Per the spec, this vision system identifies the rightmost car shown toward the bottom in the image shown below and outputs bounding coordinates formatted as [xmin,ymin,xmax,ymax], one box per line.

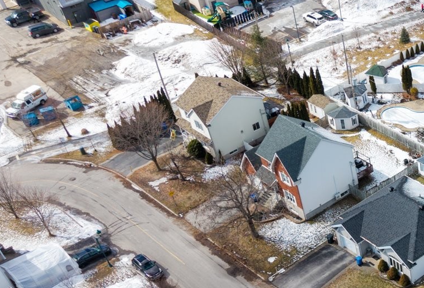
[127,253,167,282]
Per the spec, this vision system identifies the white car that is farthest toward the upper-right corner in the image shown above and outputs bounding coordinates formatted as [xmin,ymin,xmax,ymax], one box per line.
[303,13,326,27]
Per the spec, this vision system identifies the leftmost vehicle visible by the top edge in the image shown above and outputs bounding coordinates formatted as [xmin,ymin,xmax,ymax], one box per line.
[6,9,43,26]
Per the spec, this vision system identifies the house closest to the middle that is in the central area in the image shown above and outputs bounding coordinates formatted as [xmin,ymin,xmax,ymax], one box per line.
[166,77,273,165]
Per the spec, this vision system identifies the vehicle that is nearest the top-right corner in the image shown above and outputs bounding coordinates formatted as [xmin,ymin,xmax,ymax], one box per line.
[317,9,340,22]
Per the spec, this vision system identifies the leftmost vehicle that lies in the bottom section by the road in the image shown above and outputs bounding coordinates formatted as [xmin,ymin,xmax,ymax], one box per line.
[78,240,117,266]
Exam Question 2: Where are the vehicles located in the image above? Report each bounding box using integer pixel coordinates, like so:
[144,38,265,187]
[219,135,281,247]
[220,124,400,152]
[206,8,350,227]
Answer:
[6,9,43,26]
[4,80,46,115]
[27,22,61,38]
[303,13,326,27]
[78,240,117,266]
[317,9,340,22]
[127,253,167,282]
